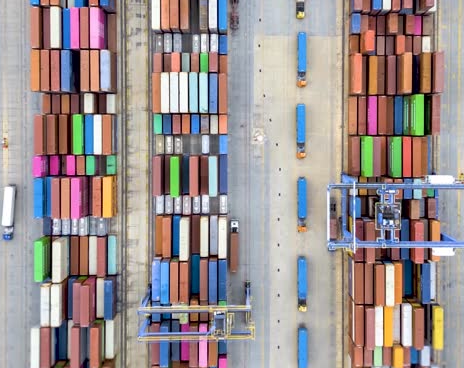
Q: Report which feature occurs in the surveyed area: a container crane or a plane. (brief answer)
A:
container crane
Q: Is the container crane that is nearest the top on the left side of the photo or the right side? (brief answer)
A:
right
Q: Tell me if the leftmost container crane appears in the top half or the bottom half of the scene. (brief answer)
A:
bottom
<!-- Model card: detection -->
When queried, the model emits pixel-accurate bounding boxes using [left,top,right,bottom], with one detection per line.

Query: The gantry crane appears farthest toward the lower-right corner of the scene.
[325,164,464,262]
